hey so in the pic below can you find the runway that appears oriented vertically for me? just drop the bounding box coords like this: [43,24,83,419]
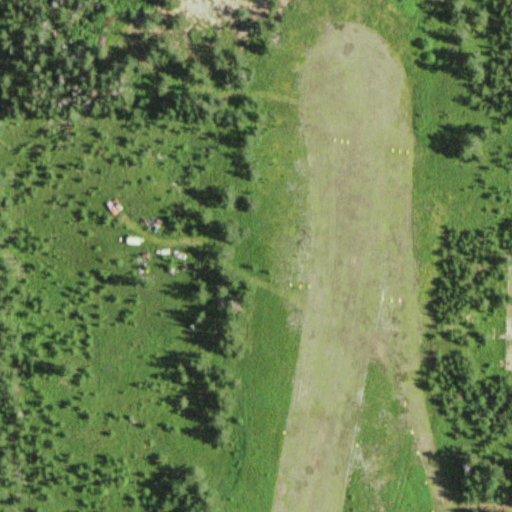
[272,22,448,512]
